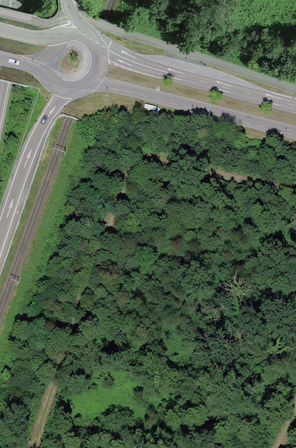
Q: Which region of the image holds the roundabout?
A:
top left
